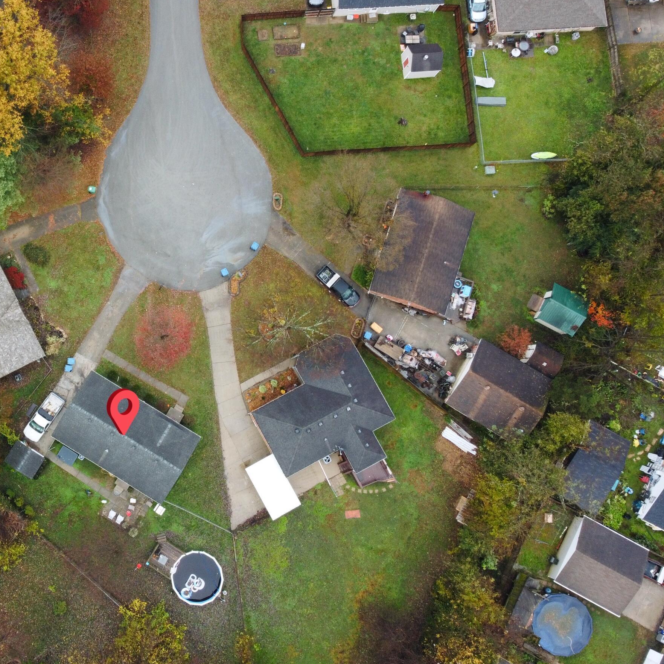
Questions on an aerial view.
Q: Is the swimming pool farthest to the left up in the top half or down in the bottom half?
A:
bottom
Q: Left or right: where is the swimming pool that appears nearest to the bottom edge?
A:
right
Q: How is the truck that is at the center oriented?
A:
at an angle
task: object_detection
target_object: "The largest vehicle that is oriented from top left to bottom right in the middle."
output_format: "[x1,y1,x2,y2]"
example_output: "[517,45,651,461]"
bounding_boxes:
[311,260,362,312]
